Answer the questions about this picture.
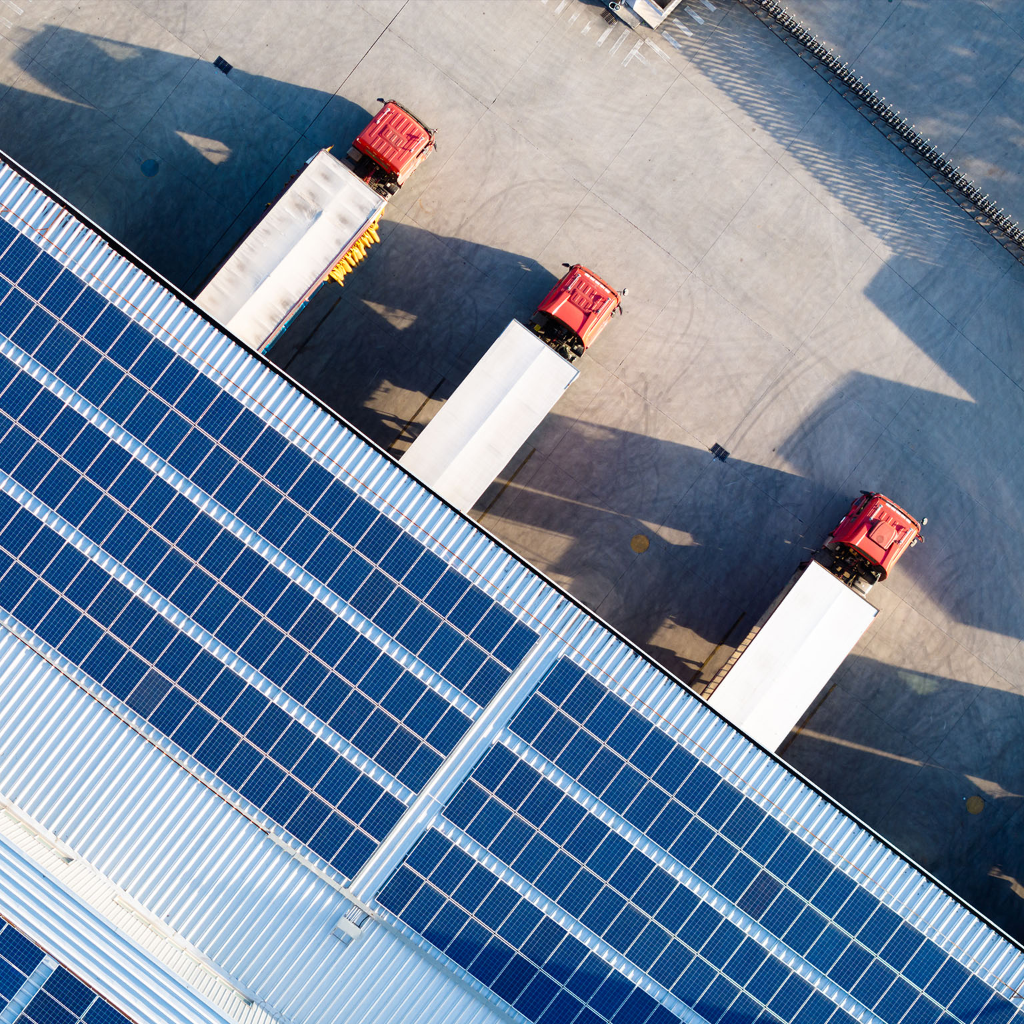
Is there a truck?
Yes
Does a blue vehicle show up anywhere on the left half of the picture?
No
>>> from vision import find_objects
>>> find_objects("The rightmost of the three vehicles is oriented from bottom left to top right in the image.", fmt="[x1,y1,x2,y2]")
[703,482,928,746]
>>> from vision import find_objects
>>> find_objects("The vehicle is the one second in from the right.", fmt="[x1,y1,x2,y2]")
[403,257,634,509]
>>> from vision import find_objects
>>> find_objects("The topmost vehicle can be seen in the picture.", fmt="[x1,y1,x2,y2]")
[197,98,443,356]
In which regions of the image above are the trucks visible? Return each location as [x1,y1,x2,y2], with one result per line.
[197,98,443,356]
[703,482,928,746]
[403,257,634,509]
